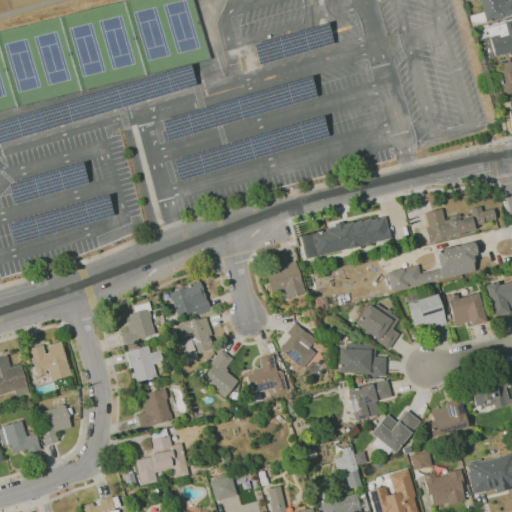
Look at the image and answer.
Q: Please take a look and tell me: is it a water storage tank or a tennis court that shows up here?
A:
tennis court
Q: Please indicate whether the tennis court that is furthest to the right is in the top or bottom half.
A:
top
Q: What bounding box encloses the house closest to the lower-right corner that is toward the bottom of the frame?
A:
[470,453,512,496]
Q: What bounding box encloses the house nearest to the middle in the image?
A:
[269,262,311,298]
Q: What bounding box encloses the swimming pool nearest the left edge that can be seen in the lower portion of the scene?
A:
[36,382,57,398]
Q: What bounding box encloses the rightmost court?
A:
[166,0,200,54]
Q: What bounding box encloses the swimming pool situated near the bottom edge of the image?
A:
[184,486,206,500]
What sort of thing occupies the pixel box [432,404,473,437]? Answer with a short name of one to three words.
house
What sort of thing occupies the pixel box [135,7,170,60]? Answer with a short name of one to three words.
tennis court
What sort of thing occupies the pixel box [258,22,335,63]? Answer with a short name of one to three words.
solar array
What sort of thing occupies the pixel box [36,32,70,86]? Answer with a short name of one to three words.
tennis court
